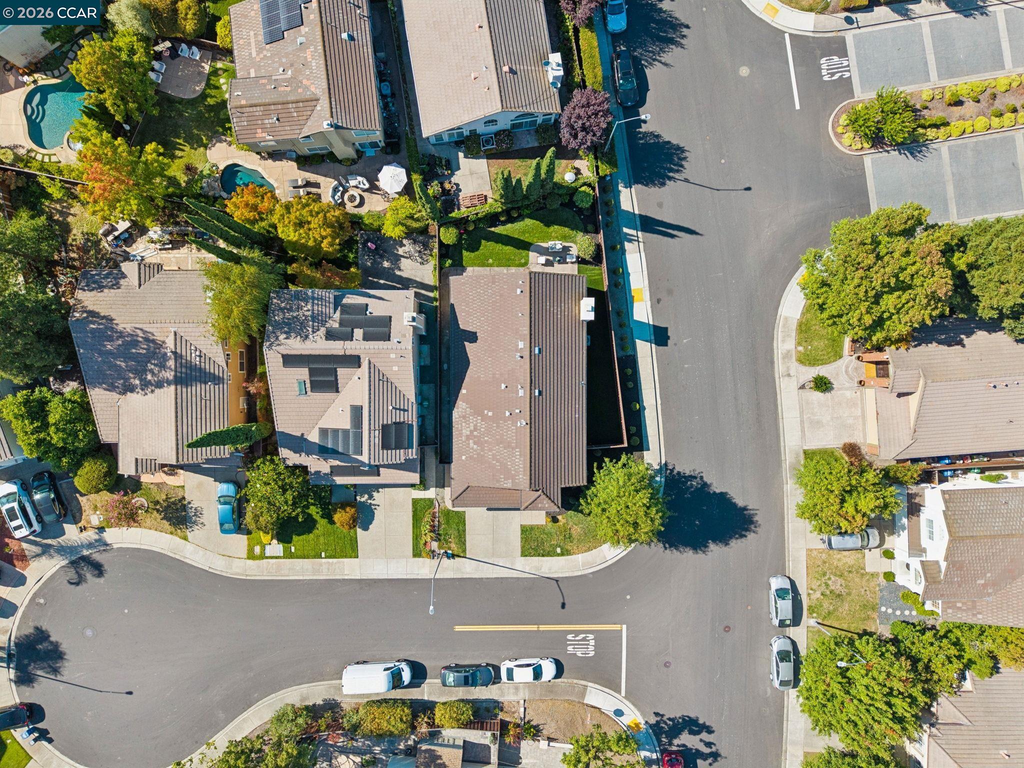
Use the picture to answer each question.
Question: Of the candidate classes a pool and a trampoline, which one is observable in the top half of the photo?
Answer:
pool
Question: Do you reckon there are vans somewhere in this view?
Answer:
Yes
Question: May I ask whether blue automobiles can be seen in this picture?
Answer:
Yes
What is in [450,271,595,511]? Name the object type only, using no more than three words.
house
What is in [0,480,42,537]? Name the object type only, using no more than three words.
car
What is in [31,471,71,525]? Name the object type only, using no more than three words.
car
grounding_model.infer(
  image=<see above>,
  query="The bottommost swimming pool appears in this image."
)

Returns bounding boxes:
[216,159,281,205]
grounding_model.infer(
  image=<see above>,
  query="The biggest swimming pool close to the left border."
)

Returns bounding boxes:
[19,70,97,154]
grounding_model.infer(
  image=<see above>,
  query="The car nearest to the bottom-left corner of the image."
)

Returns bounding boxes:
[0,698,40,729]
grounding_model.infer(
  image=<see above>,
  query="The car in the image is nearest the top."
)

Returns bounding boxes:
[603,0,627,35]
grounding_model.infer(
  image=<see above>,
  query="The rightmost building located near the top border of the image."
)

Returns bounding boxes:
[402,0,563,144]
